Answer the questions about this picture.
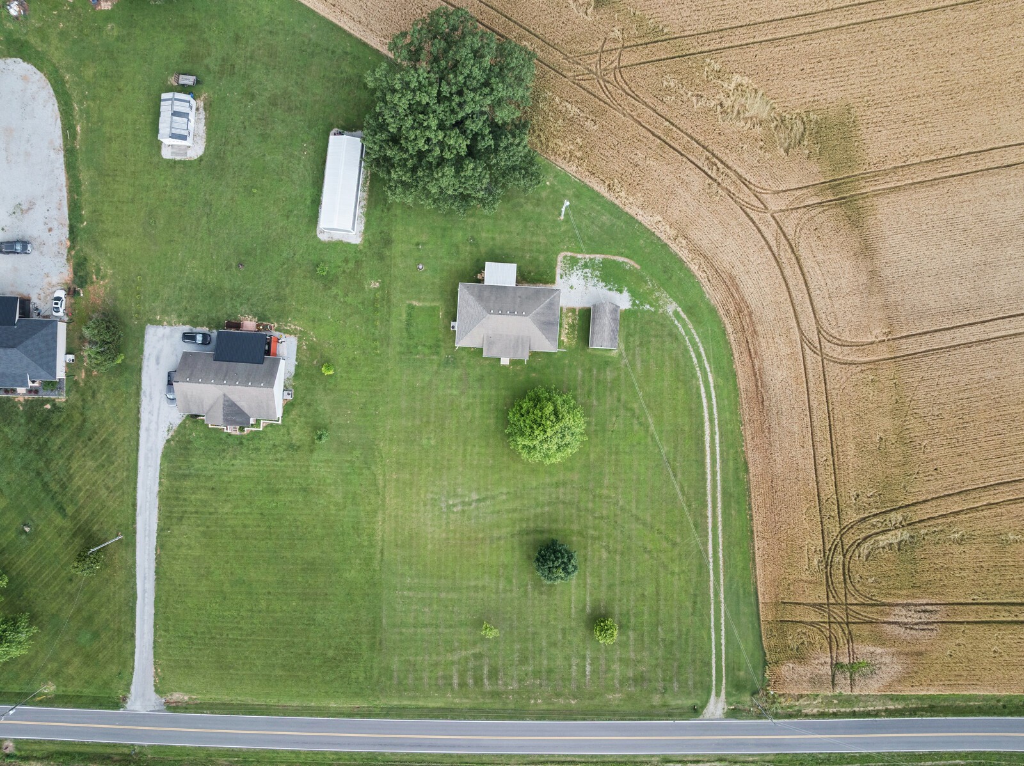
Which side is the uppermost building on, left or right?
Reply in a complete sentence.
It is on the left.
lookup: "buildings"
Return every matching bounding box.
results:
[455,262,566,364]
[173,330,285,433]
[589,301,620,349]
[158,92,196,146]
[320,134,365,235]
[0,295,75,394]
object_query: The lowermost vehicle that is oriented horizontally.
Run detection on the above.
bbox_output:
[180,331,210,345]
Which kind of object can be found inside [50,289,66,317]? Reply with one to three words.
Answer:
car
